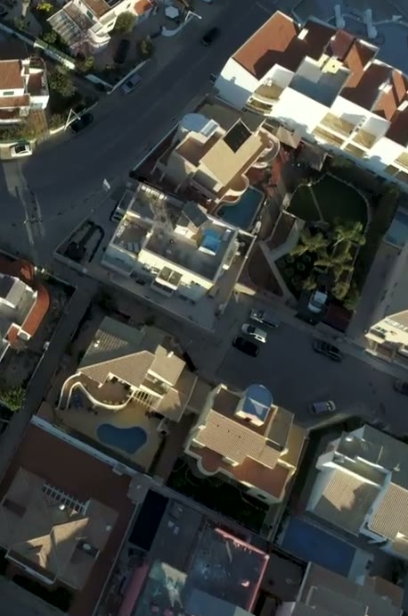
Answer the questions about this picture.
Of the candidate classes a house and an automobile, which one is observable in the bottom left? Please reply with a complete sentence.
There is a house in the bottom left.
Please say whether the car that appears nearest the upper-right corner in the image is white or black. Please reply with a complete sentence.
The color of the car that appears nearest the upper-right corner is black.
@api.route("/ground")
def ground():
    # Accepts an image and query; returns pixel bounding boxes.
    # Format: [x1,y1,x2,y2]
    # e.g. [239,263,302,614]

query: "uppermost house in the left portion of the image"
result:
[43,0,153,57]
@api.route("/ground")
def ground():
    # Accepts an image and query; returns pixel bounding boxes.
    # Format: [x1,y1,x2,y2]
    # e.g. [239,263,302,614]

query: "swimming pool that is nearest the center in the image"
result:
[213,184,268,233]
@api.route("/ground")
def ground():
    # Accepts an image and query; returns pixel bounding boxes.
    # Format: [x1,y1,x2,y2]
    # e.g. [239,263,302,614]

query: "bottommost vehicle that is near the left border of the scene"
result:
[9,143,33,156]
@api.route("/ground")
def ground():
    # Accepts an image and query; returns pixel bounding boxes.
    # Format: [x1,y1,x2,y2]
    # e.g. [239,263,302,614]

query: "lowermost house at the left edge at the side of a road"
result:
[0,466,150,590]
